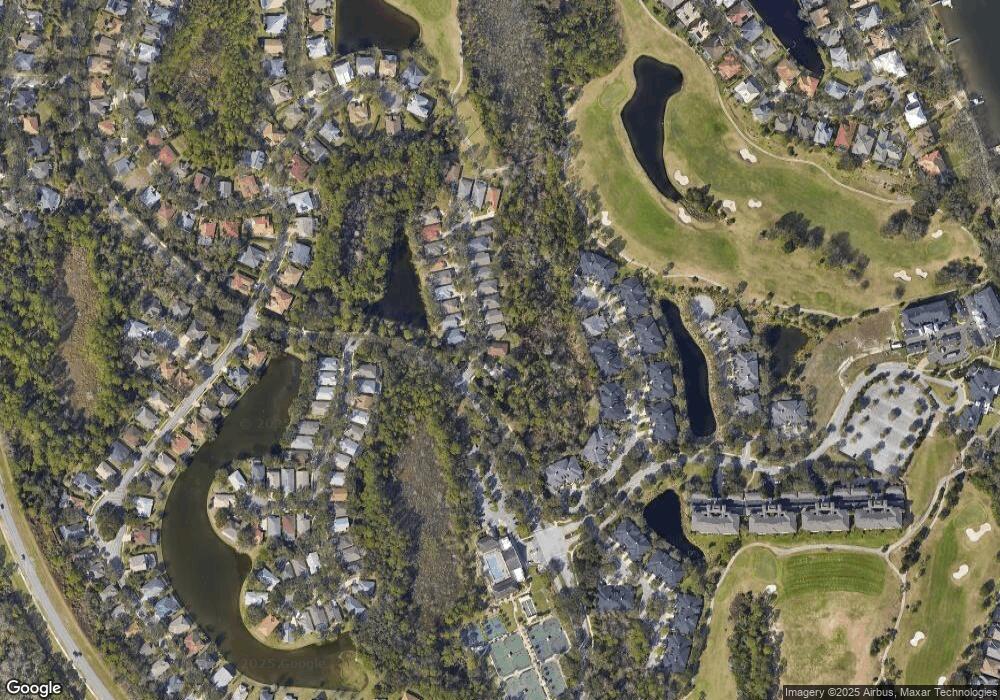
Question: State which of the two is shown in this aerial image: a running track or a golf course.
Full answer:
The image shows a golf course.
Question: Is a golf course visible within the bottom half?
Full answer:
Yes, a golf course shows up within the bottom half.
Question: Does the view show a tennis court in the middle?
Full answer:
No, the scene shows no tennis court in the middle.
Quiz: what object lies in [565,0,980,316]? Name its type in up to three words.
golf course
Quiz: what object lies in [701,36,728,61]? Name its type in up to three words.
house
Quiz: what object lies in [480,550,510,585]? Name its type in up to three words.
swimming pool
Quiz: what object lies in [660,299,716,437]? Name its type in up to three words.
pond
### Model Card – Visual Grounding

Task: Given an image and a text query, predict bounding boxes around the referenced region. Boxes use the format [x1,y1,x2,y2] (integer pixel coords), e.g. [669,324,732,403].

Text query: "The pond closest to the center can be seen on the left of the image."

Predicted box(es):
[368,216,428,330]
